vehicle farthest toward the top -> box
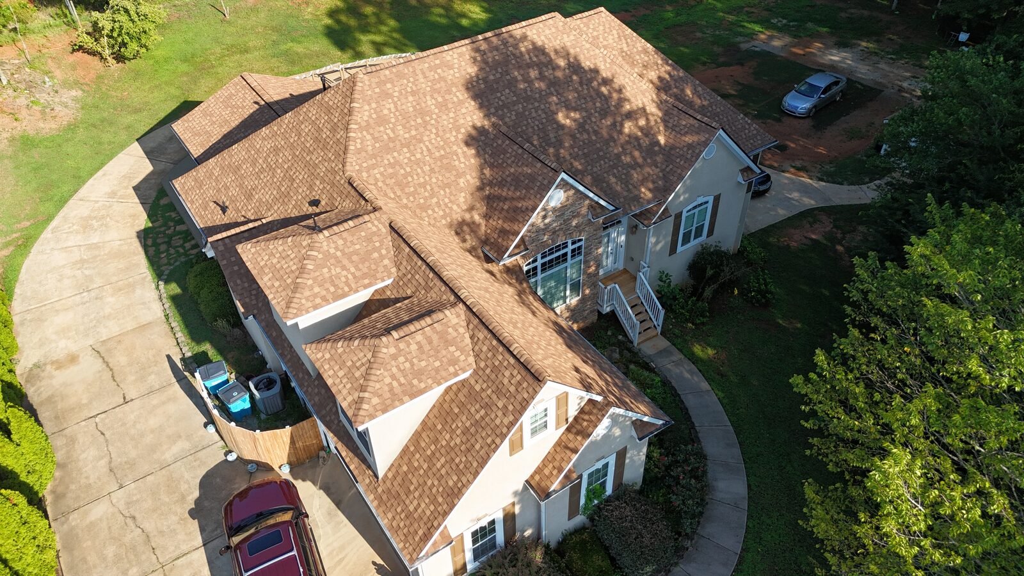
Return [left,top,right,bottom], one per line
[778,63,853,117]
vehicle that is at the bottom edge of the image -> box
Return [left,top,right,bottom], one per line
[220,477,331,576]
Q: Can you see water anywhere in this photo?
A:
No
